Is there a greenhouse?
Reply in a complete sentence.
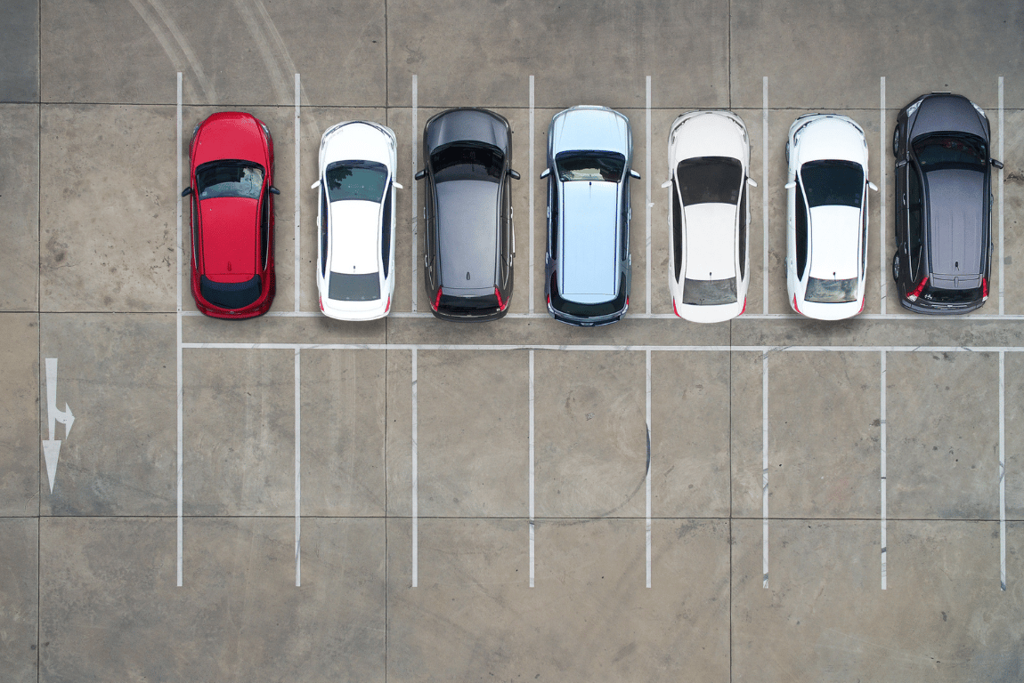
No, the picture doesn't show any greenhouse.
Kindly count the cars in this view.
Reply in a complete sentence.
The photo contains 7 cars.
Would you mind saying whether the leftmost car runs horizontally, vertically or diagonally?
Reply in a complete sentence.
The leftmost car has been laid out vertically relative to the frame.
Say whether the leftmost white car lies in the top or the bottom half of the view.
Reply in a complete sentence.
The top half of the photo is where the leftmost white car is.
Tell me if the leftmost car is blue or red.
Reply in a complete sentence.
The leftmost car looks red in the image.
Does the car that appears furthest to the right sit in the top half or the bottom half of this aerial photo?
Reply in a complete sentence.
It is in the top half that the car that appears furthest to the right appears.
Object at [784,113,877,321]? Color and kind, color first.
white car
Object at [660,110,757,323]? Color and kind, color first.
white car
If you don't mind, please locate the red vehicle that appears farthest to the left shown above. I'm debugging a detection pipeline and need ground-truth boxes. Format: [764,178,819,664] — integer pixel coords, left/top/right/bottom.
[182,111,281,321]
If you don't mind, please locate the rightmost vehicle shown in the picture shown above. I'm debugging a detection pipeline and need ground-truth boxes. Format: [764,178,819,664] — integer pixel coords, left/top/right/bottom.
[893,93,1002,315]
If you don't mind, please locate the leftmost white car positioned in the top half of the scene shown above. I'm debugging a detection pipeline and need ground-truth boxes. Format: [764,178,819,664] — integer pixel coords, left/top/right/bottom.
[311,121,403,322]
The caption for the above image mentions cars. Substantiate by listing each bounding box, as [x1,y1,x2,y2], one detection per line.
[182,111,281,321]
[415,108,520,322]
[660,110,757,323]
[784,113,877,321]
[539,105,640,327]
[311,121,403,322]
[893,93,1002,315]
